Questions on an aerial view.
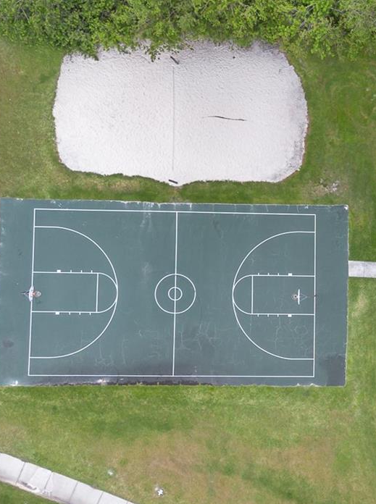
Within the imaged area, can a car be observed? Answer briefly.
No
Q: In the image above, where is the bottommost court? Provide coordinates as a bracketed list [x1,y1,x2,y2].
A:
[0,197,349,387]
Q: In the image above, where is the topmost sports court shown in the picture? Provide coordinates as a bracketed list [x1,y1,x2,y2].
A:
[52,35,309,187]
